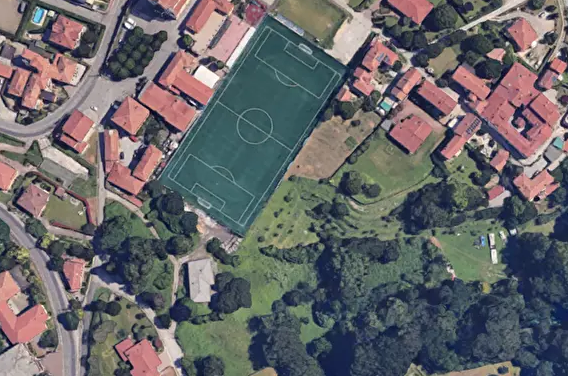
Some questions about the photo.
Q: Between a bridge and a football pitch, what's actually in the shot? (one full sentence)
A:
Of the two, only a football pitch appears.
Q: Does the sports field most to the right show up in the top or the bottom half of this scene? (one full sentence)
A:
The top half of the photo is where the sports field most to the right is.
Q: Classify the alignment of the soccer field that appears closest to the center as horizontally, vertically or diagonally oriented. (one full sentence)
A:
The soccer field that appears closest to the center runs diagonally in the image.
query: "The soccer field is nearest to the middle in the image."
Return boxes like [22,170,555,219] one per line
[161,19,349,233]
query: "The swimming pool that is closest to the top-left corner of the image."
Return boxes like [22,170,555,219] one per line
[31,8,46,25]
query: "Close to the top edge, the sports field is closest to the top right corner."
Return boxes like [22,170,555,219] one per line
[276,0,352,48]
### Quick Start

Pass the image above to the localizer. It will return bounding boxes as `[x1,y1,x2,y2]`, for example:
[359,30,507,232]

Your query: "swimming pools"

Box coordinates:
[380,99,393,112]
[31,8,46,25]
